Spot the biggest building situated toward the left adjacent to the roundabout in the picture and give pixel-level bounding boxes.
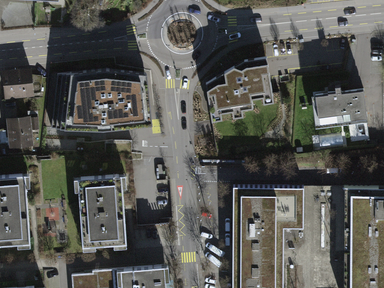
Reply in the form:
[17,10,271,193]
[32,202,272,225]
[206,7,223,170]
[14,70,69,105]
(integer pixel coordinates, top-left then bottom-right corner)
[52,68,151,130]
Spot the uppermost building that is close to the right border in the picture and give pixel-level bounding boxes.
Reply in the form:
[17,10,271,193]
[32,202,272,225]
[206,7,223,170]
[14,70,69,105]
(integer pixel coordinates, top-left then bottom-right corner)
[312,84,366,128]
